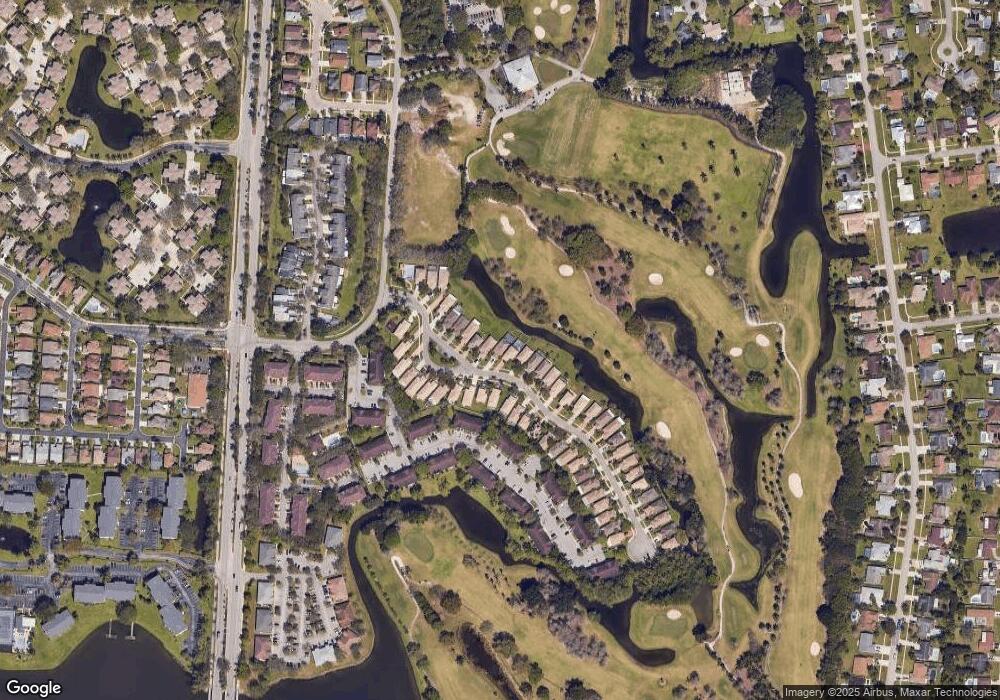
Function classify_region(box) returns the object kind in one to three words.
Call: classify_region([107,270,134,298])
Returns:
house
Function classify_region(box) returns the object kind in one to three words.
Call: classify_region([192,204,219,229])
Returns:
house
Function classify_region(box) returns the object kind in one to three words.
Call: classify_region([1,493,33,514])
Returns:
building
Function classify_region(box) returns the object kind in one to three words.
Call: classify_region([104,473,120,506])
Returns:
building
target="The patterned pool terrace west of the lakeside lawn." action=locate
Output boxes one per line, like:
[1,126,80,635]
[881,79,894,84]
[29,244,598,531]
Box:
[15,616,35,652]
